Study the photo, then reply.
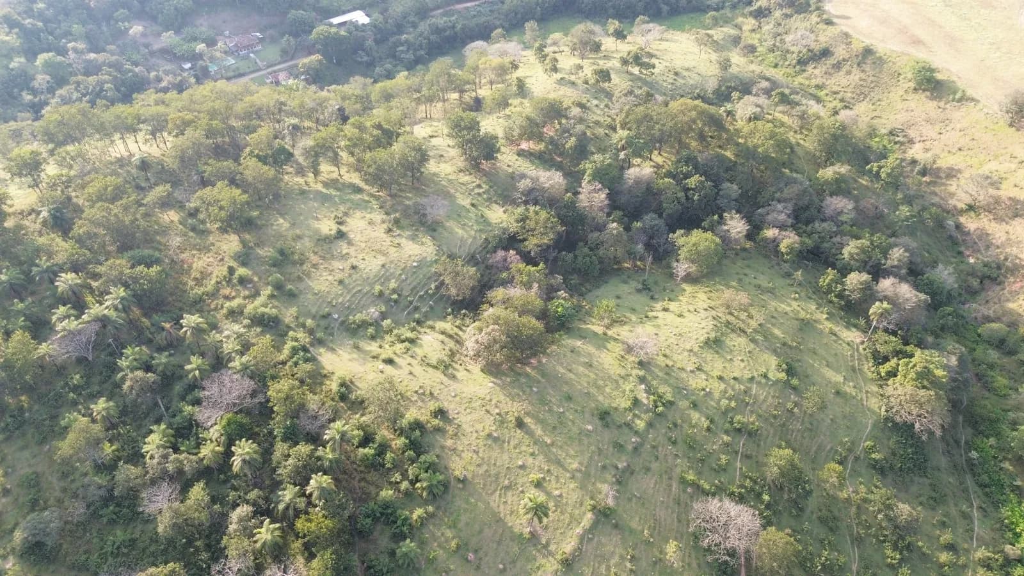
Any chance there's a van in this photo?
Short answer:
No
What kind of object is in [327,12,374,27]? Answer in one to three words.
shed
